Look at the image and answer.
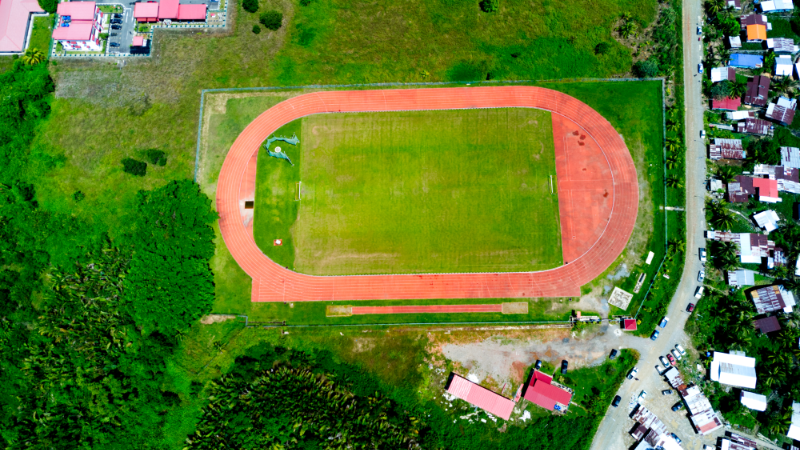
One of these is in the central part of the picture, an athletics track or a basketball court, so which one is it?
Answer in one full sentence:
The feature located in the central part of the picture is an athletics track.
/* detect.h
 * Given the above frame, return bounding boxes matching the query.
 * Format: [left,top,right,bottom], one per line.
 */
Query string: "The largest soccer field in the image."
[295,108,563,275]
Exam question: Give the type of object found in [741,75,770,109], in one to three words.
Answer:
house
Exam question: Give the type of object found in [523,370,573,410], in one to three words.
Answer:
house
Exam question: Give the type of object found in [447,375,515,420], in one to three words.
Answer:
shed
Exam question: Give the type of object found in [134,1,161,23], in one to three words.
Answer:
building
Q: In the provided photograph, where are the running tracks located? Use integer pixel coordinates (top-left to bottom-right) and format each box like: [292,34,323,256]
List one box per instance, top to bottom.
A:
[216,86,639,302]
